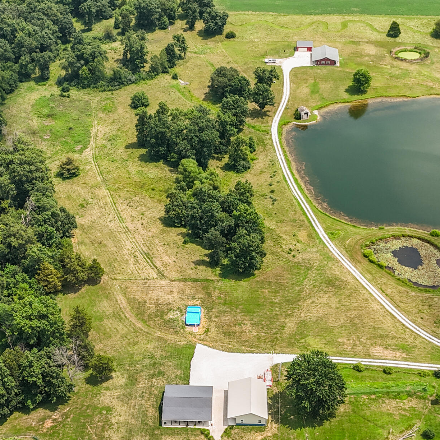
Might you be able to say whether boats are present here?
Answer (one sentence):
No, there appears to be no boat in this shot.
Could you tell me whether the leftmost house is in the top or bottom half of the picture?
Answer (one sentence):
You can find the leftmost house in the bottom half.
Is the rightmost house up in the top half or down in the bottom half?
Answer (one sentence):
It is in the top half that the rightmost house appears.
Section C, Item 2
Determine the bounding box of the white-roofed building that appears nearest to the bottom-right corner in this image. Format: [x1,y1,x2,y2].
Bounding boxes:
[226,377,267,426]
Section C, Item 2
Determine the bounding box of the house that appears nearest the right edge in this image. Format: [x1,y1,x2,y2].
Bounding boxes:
[313,44,340,66]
